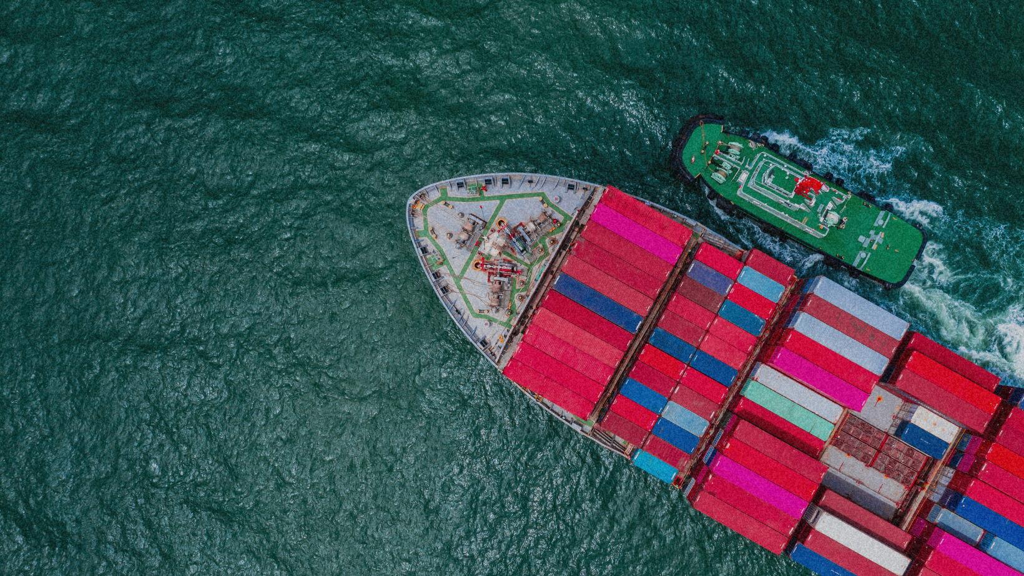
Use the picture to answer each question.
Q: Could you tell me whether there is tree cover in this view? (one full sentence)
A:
No, the picture contains no tree cover.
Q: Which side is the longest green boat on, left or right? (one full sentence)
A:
You can find the longest green boat on the right side of the picture.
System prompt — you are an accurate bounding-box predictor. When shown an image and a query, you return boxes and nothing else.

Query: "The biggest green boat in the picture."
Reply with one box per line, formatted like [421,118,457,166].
[667,115,928,292]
